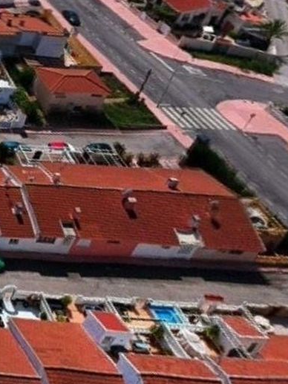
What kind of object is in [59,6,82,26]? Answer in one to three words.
car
